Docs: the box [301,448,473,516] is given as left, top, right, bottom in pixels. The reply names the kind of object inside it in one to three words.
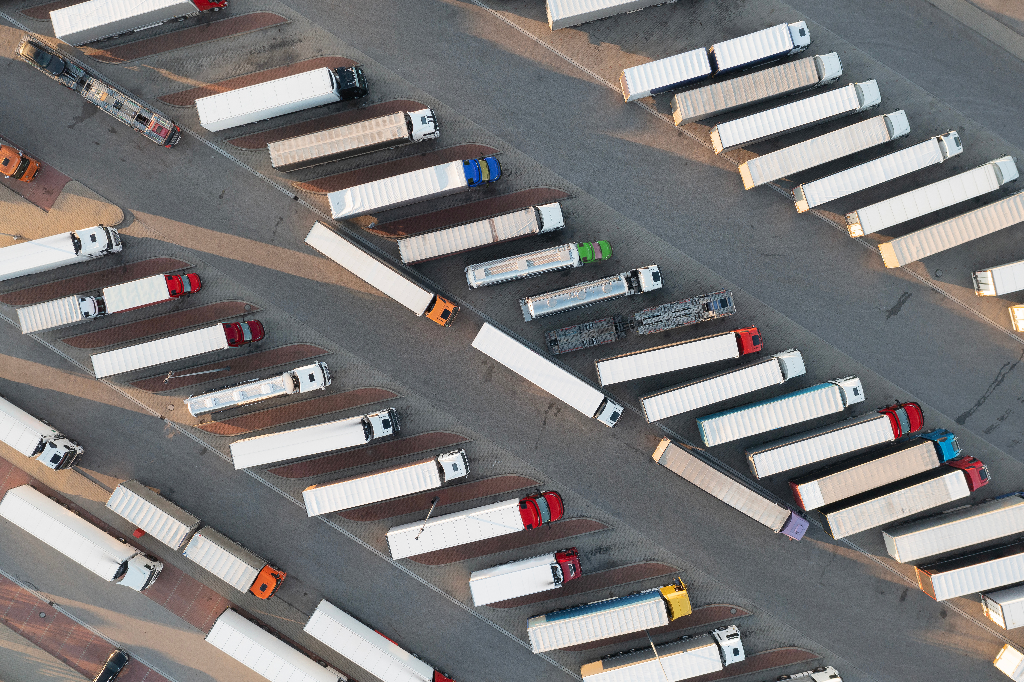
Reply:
truck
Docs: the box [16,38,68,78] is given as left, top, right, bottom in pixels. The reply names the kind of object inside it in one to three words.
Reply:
car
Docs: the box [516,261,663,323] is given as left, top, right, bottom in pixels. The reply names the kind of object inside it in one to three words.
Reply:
truck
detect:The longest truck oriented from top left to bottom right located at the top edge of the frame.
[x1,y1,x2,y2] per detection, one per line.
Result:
[14,32,190,152]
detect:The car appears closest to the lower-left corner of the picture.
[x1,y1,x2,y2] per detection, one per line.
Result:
[94,648,129,682]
